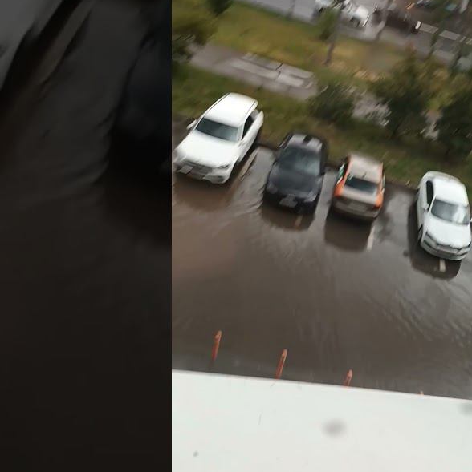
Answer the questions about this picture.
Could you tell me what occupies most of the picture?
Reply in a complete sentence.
Most of the picture is covered by paved ground.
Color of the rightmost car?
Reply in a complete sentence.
In this view, the rightmost car is white.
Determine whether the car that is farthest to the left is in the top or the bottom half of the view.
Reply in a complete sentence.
Seen from above, the car that is farthest to the left lies in the top half of the view.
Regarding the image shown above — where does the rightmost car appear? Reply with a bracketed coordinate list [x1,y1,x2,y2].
[407,167,472,259]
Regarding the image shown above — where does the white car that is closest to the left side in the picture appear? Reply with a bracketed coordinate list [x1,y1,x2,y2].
[174,90,259,180]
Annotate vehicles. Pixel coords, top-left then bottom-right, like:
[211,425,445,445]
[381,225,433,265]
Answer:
[371,2,427,38]
[308,0,383,31]
[264,127,335,212]
[407,167,472,259]
[329,148,393,224]
[174,90,259,180]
